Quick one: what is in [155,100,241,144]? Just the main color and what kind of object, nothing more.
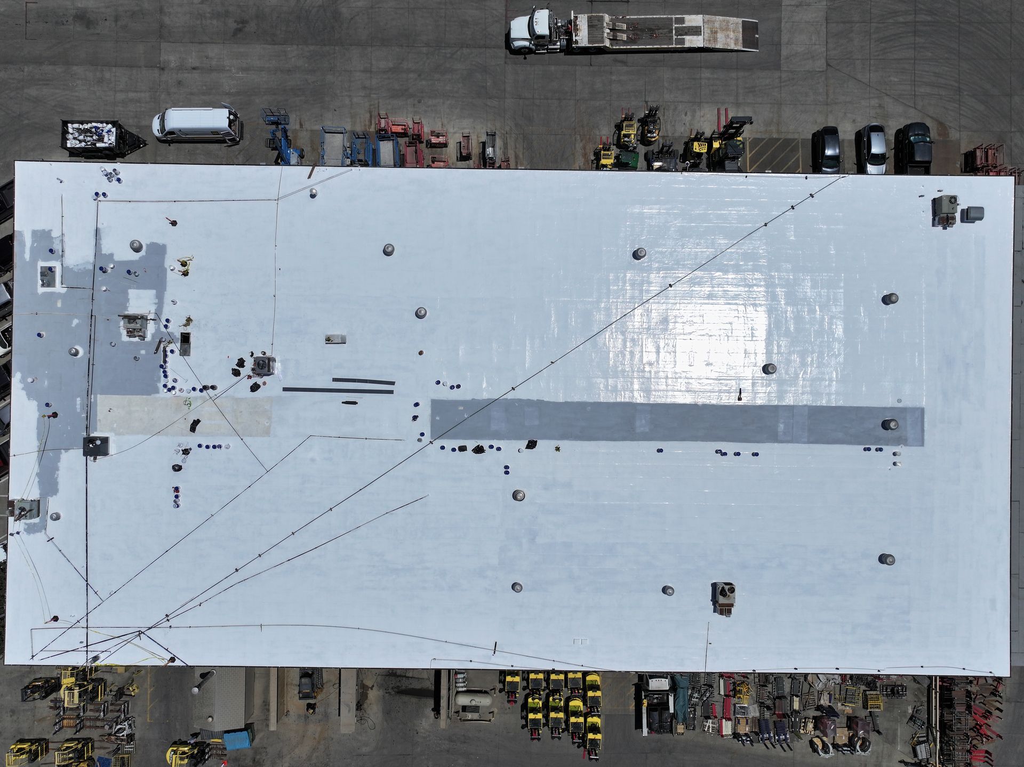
white van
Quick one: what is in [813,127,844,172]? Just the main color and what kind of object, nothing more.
black car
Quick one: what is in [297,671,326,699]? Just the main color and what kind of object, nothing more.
black work vehicle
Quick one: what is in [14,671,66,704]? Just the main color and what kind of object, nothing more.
black work vehicle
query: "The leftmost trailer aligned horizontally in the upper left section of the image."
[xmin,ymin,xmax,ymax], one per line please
[59,119,149,156]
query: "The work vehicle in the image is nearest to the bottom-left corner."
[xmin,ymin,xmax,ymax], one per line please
[2,732,57,767]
